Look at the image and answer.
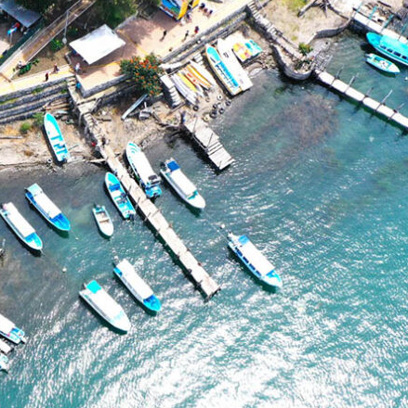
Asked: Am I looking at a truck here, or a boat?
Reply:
boat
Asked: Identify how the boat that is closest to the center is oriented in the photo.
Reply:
at an angle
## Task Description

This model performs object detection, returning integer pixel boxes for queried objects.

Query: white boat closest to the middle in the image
[157,155,205,209]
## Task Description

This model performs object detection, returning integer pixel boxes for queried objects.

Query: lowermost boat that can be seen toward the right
[223,230,282,288]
